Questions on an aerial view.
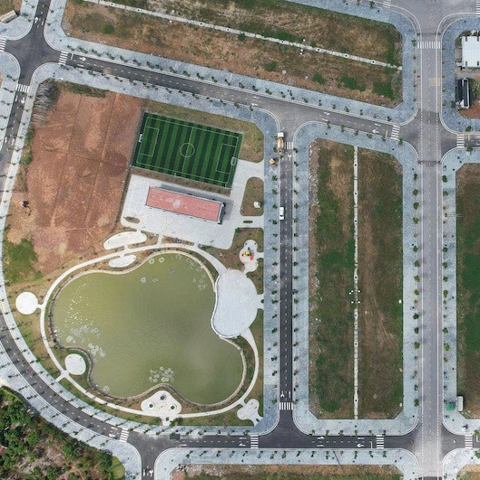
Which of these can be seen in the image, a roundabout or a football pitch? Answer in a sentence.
There is a football pitch in the scene.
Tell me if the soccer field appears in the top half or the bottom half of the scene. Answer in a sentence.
Seen from above, the soccer field lies in the top half of the view.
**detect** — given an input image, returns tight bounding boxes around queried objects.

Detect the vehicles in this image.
[277,132,283,153]
[278,206,284,219]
